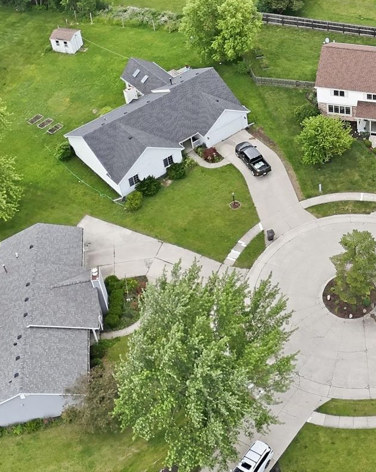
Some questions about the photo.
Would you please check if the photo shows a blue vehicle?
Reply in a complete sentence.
No, there's no blue vehicle here.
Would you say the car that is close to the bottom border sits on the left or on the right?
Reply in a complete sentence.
You can find the car that is close to the bottom border on the right side of the picture.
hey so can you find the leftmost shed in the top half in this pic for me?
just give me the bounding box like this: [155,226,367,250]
[47,28,84,53]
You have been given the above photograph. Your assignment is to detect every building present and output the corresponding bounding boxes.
[64,58,255,203]
[47,28,84,53]
[314,36,376,134]
[0,221,114,425]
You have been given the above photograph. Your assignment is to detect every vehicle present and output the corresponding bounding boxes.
[234,141,270,177]
[232,438,274,472]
